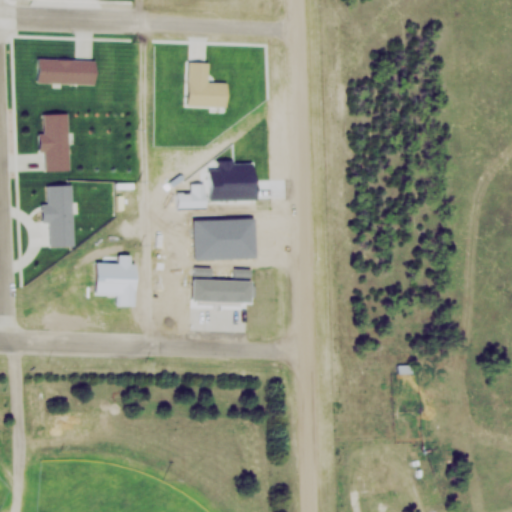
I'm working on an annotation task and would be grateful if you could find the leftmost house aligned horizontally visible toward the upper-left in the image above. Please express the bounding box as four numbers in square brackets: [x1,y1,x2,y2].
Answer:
[37,60,96,89]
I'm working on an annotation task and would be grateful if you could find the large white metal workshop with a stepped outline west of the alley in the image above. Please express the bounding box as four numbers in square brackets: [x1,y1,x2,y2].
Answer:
[94,255,138,308]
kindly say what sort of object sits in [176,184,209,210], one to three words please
building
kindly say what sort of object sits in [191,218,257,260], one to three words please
building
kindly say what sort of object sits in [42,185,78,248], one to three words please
house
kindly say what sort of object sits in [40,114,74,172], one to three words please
house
